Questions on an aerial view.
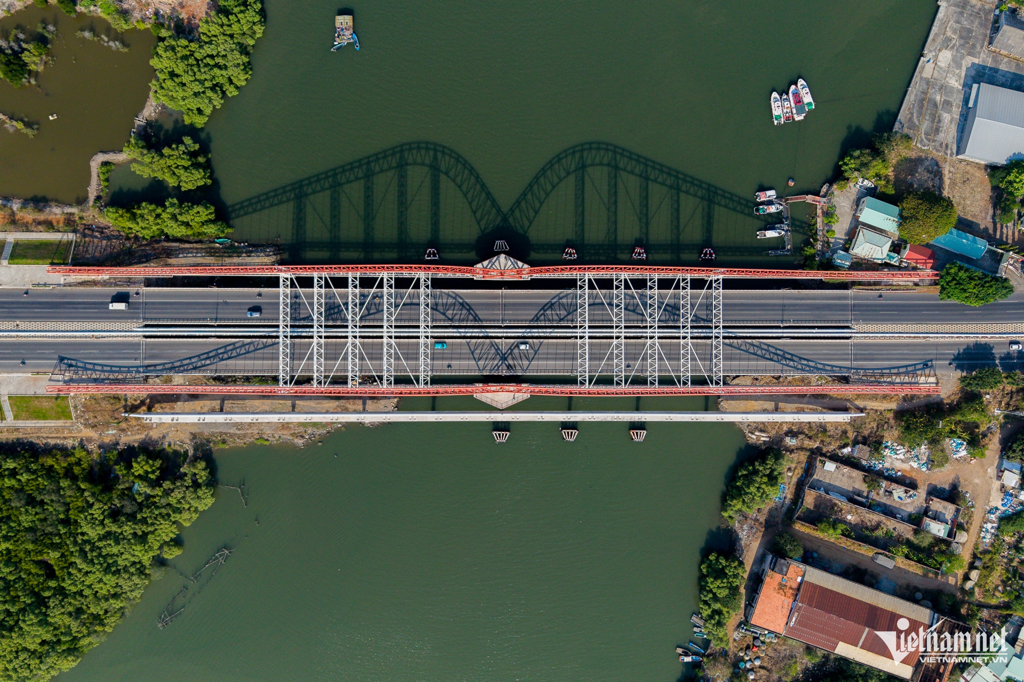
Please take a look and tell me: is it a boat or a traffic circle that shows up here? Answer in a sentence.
This aerial view contains a boat.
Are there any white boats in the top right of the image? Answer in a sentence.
Yes, there is a white boat in the top right of the image.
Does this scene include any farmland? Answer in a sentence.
No, there's no farmland in this view.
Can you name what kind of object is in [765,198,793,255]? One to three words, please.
pier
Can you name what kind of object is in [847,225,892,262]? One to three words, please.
house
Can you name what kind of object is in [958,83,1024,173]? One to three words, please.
building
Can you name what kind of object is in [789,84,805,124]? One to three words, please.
boat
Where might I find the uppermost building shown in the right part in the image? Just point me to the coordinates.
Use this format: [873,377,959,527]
[988,11,1024,61]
